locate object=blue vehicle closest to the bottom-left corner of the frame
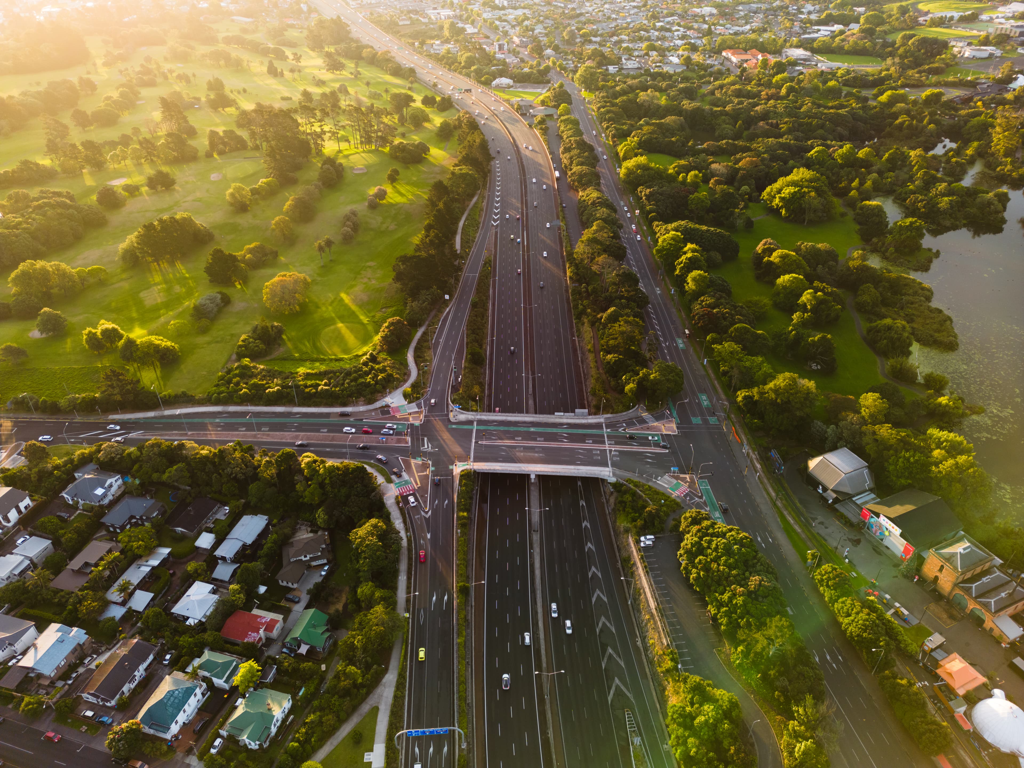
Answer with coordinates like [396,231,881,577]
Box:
[94,713,113,725]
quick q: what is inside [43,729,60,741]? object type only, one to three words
vehicle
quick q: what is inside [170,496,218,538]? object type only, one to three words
house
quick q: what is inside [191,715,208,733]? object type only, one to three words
car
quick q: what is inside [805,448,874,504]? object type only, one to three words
building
